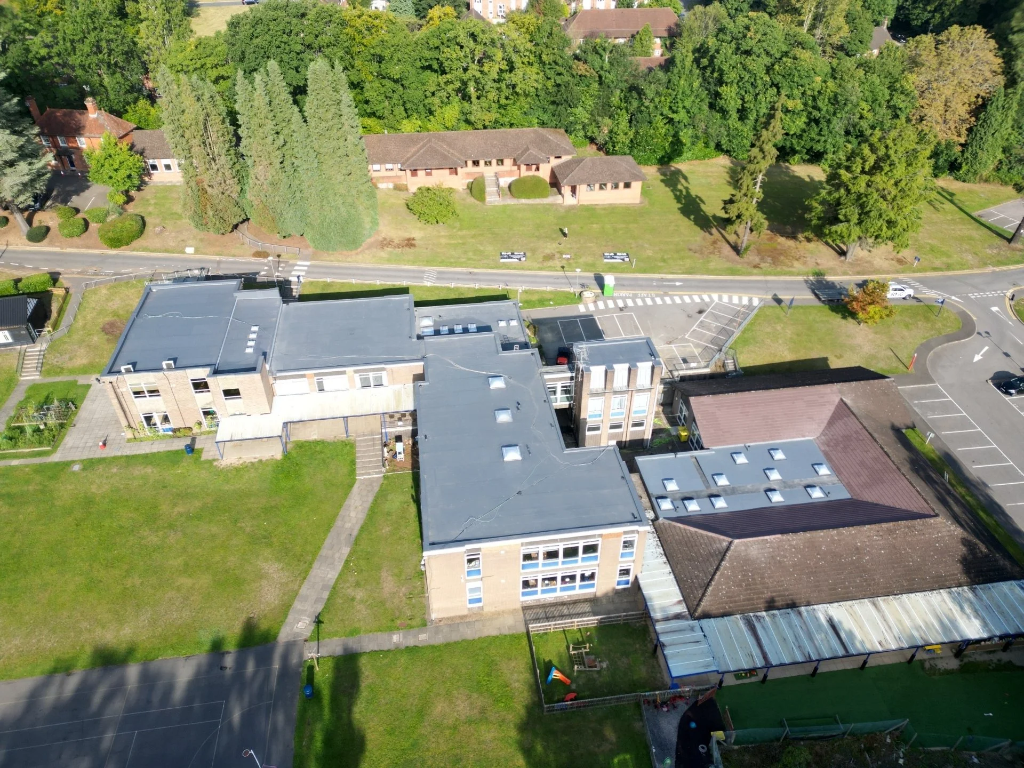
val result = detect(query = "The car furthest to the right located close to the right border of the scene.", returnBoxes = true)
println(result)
[996,373,1024,395]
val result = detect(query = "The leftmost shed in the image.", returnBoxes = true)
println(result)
[0,297,47,346]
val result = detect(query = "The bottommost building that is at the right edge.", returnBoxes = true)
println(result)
[632,366,1024,632]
